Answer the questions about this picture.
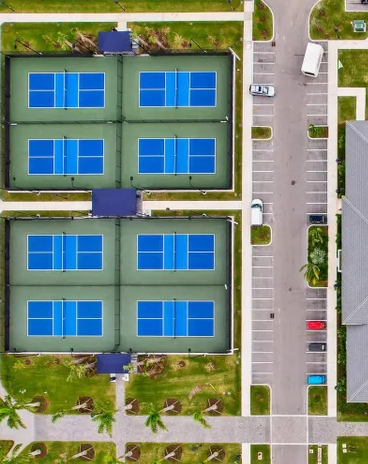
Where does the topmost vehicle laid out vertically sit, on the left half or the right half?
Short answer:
right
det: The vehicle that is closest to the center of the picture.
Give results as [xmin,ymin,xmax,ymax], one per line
[249,198,264,227]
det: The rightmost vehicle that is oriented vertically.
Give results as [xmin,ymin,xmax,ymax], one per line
[302,40,323,78]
